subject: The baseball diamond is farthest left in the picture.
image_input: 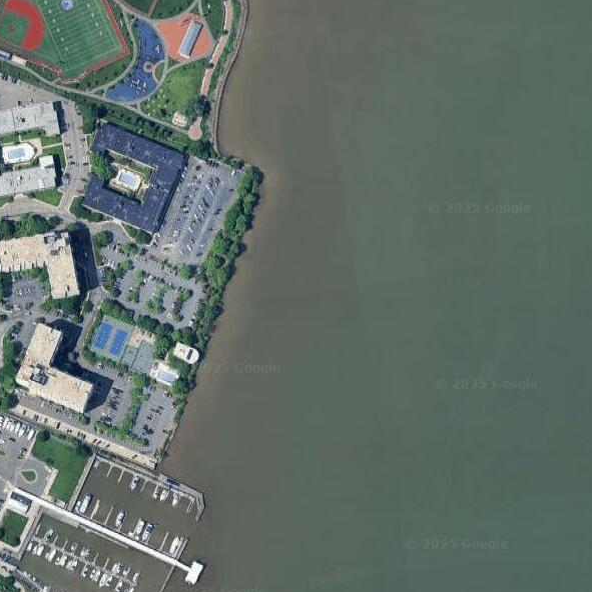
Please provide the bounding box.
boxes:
[0,0,45,53]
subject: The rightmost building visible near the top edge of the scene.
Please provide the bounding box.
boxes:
[180,21,203,57]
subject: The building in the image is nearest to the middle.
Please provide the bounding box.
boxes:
[174,343,199,364]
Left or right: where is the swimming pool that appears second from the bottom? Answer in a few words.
left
